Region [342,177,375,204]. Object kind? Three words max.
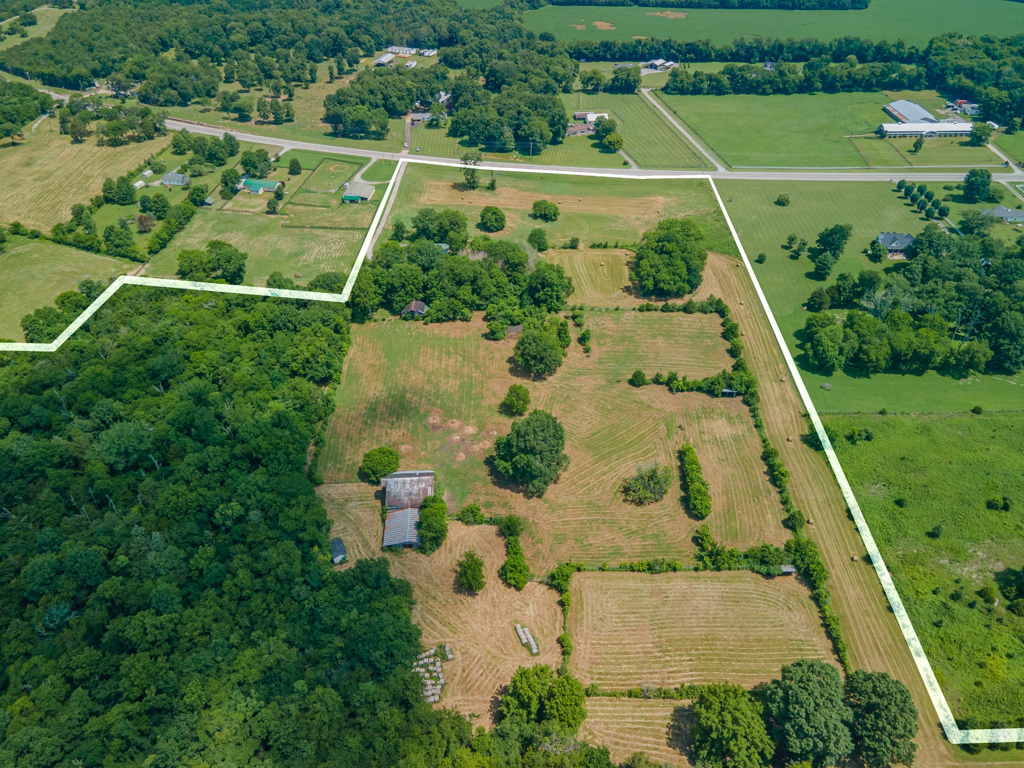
barn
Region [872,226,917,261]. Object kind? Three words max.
house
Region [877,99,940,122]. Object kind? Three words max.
barn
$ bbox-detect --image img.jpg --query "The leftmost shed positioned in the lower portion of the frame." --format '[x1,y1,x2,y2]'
[330,534,346,563]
